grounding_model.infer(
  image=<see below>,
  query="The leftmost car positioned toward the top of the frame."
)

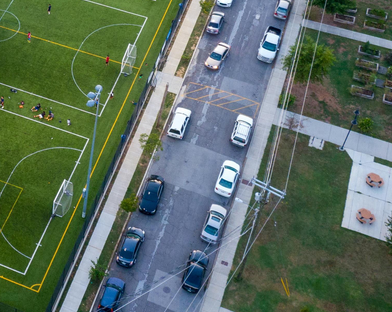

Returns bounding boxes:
[168,107,190,139]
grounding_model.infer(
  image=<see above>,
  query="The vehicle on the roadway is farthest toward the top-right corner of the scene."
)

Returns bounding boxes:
[274,0,292,20]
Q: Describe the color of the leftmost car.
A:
blue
